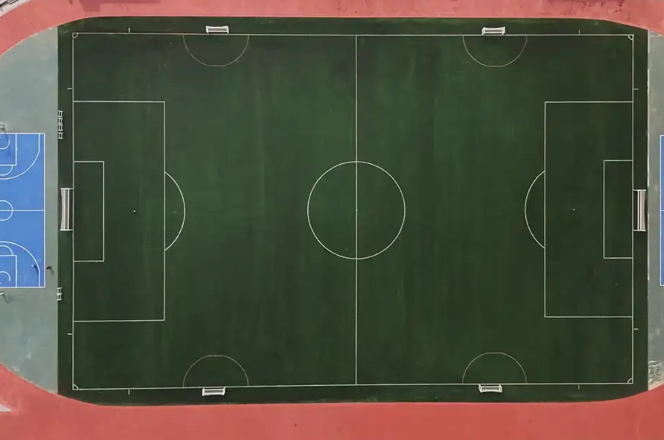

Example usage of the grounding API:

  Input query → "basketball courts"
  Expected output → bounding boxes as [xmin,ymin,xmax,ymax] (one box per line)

[647,30,664,390]
[0,28,58,392]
